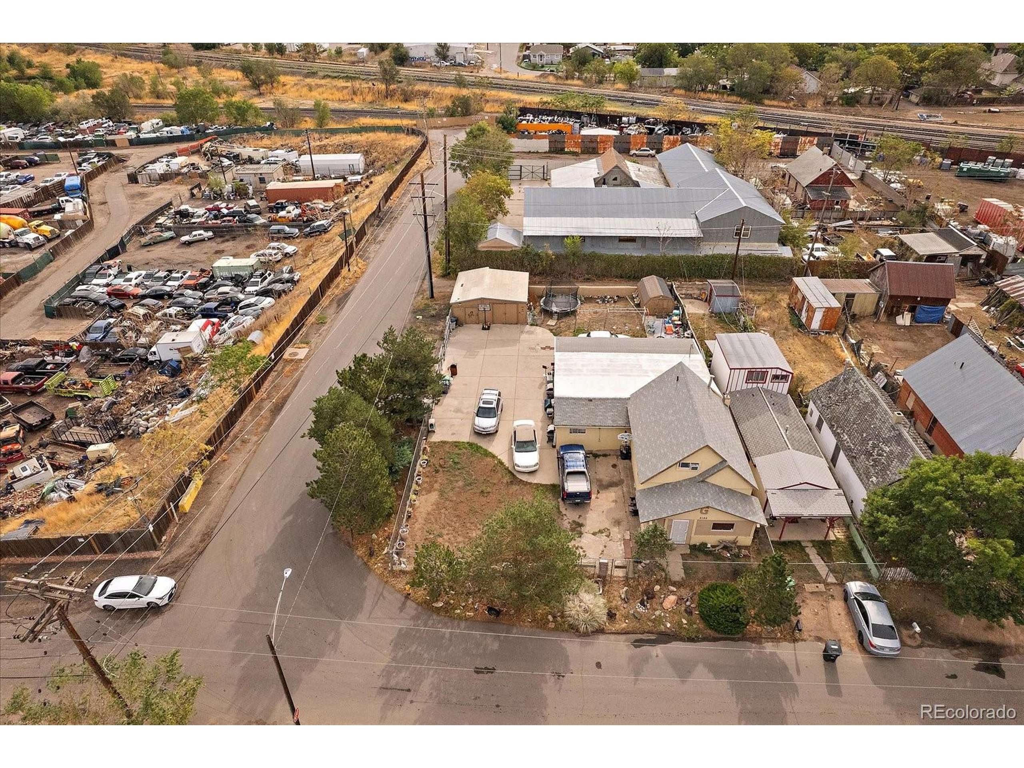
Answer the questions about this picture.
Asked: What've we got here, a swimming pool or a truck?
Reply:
truck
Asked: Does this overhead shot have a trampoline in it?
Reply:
Yes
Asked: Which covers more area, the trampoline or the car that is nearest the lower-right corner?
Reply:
the car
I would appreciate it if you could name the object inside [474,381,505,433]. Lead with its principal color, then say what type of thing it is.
white car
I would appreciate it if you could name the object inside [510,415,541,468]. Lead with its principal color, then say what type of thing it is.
white car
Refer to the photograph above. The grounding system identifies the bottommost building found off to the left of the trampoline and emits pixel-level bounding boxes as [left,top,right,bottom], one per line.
[450,270,530,325]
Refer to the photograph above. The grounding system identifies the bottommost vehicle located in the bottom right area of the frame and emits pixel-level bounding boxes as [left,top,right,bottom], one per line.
[843,580,904,663]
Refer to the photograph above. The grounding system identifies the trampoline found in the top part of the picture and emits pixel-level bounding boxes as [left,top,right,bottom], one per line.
[540,275,581,322]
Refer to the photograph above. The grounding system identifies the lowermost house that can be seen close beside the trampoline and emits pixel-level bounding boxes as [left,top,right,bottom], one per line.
[552,338,767,546]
